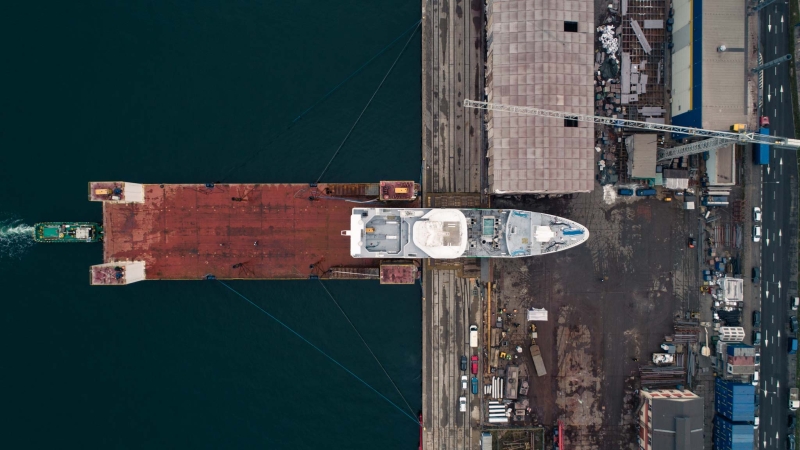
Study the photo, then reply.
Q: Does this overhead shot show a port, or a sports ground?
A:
port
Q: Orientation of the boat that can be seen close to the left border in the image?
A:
horizontally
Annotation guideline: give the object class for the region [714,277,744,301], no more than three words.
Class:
building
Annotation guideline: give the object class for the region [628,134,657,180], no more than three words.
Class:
shed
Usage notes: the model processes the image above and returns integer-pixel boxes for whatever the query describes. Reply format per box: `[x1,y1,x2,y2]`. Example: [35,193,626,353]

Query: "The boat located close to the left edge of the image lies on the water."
[33,221,104,244]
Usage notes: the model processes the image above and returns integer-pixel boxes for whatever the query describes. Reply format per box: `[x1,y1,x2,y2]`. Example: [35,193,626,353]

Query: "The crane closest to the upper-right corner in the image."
[462,97,800,166]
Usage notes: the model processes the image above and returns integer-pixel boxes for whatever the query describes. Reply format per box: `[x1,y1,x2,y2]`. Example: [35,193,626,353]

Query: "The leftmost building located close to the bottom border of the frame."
[640,391,702,450]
